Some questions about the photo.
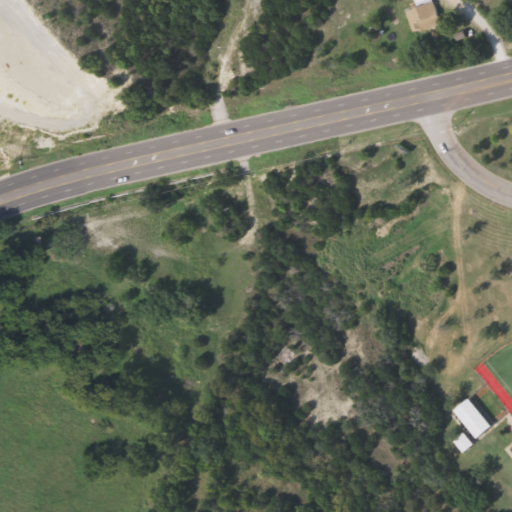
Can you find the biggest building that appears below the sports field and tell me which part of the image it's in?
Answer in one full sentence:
The biggest building that appears below the sports field is in the bottom right part of the image.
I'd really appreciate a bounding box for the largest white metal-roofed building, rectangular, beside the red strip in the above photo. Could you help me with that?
[453,400,491,440]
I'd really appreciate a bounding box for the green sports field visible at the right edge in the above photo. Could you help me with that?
[476,342,512,398]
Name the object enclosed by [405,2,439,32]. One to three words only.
house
